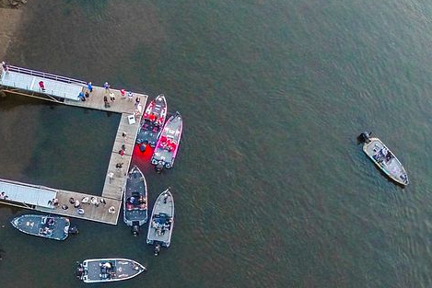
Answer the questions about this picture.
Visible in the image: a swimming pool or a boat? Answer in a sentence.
I can see a boat in this picture.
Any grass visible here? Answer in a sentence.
No, there's no grass in this view.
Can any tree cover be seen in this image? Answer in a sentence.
No, no tree cover is visible.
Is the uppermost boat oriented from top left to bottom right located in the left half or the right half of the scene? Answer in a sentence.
It is on the right.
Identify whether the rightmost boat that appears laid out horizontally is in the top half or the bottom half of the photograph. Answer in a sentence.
The rightmost boat that appears laid out horizontally sits in the bottom half of the picture.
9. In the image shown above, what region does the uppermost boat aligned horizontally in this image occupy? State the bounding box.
[11,214,75,239]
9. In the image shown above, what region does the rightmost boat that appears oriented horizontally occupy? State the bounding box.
[75,258,145,282]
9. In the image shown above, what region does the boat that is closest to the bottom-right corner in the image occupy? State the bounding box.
[357,131,408,186]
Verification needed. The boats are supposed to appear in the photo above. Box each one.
[75,258,145,282]
[357,131,408,186]
[124,166,147,232]
[11,214,75,239]
[138,94,165,152]
[154,113,183,173]
[149,186,175,253]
